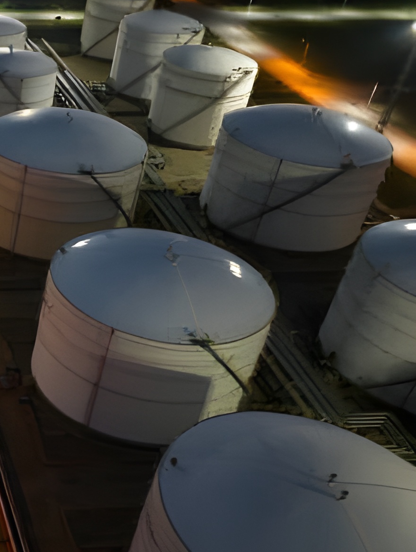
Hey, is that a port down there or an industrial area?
industrial area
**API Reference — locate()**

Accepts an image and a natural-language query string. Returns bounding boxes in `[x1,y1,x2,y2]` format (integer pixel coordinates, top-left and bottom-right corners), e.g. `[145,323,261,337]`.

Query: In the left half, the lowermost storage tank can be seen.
[28,225,277,447]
